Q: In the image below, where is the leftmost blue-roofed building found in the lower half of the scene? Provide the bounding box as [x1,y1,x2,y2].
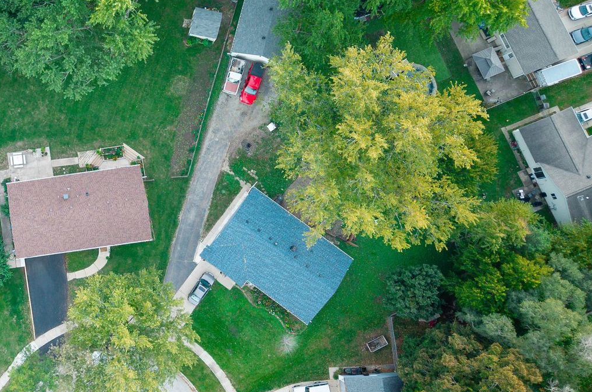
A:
[198,187,353,324]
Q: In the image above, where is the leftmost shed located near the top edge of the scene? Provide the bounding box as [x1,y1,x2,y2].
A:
[188,7,222,40]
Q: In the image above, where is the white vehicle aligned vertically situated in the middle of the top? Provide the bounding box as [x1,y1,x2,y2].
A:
[226,53,246,94]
